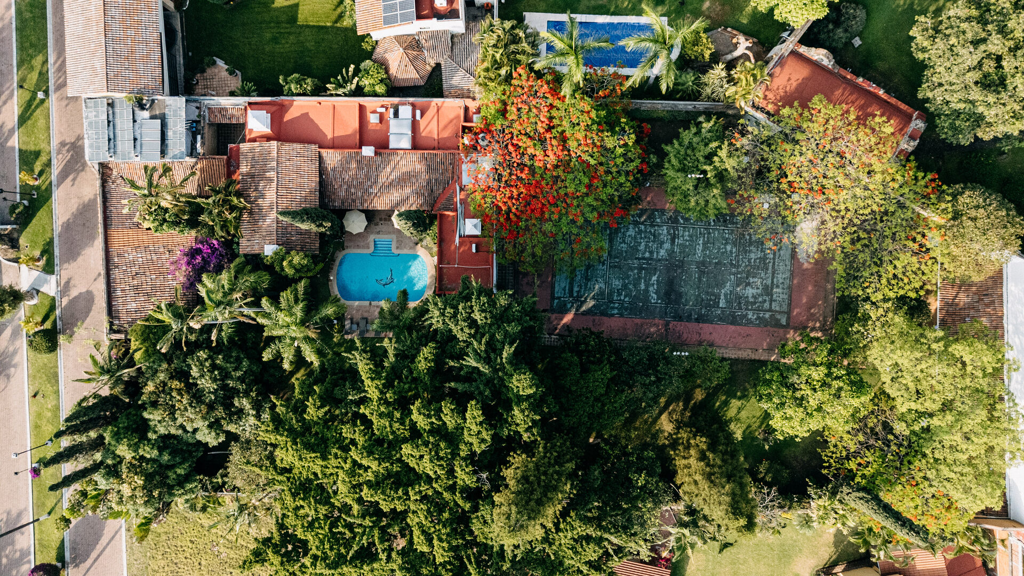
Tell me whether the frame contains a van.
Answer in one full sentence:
No, no van can be seen from above.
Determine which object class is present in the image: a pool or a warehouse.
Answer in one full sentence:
It is a pool that can be seen here.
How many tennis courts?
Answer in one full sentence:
I count 1 tennis court.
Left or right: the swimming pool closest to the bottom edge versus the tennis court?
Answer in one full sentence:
Relative to the tennis court, the swimming pool closest to the bottom edge is on the left.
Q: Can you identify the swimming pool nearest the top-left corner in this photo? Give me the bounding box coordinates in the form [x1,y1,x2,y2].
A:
[329,234,436,308]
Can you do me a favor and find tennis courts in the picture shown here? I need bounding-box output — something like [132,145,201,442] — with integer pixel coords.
[520,184,837,349]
